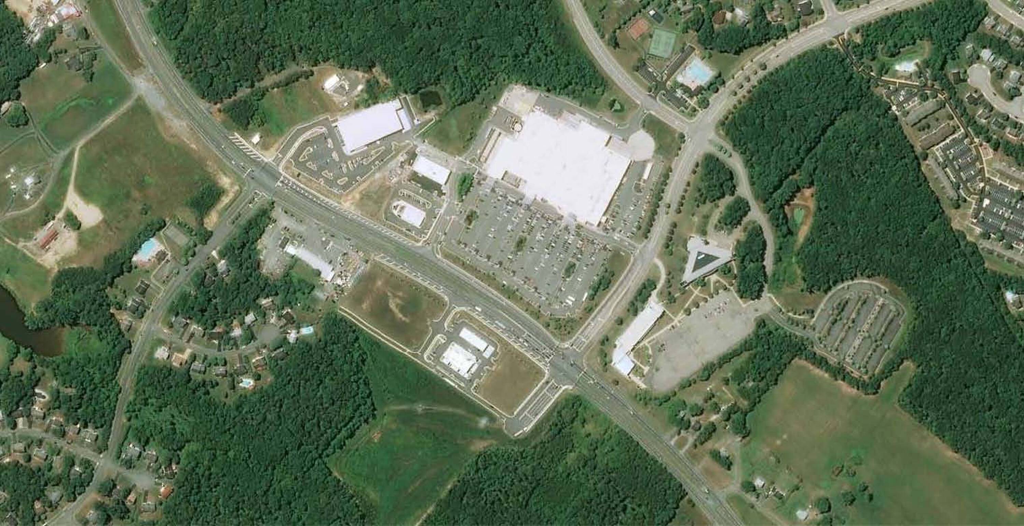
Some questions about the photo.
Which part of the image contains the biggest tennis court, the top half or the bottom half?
top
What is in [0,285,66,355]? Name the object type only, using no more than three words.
pond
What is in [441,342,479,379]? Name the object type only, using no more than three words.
building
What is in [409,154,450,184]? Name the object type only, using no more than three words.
building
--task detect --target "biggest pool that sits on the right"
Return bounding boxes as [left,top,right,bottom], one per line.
[677,57,717,90]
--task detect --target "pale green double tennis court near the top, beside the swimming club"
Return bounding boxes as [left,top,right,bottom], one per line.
[648,28,676,58]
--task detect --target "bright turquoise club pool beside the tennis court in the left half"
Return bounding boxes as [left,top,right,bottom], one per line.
[133,238,167,267]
